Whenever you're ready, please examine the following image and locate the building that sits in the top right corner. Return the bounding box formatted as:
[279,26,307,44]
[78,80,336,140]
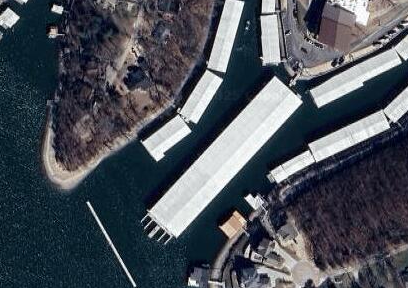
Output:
[317,0,370,49]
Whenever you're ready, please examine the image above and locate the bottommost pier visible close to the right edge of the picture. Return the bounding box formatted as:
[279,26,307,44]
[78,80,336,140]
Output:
[309,110,389,161]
